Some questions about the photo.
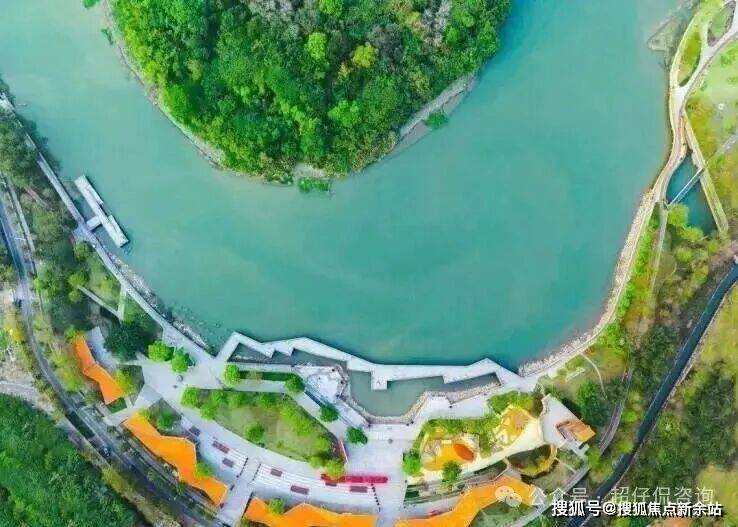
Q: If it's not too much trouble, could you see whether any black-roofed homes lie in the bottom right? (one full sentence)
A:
No, there's no black-roofed home to be seen in the bottom right.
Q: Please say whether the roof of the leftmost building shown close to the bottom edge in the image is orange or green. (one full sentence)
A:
In this view, the roof of the leftmost building shown close to the bottom edge is orange.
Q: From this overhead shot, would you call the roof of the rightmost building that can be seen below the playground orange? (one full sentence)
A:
Yes, the roof of the rightmost building that can be seen below the playground appears orange.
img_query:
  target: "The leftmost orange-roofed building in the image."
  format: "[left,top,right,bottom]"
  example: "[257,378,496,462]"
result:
[75,333,123,404]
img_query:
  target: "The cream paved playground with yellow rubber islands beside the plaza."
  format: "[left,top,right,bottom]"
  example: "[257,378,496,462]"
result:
[416,404,544,479]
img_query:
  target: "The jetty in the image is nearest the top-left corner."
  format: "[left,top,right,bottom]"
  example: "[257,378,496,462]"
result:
[73,175,126,247]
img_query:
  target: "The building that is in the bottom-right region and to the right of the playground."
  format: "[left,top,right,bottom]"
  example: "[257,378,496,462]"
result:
[556,419,595,448]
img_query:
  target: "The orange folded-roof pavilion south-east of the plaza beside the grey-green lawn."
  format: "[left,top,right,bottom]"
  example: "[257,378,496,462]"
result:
[393,476,535,527]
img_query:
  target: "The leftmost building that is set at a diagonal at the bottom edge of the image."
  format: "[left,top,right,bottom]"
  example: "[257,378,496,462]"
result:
[123,413,228,505]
